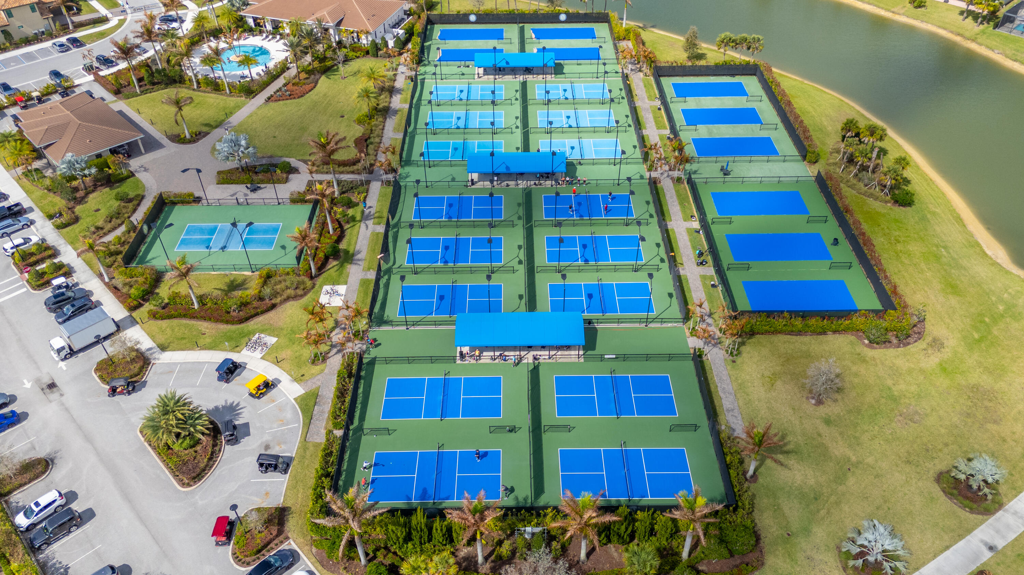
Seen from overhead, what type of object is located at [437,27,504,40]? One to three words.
sports court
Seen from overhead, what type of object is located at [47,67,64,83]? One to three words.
car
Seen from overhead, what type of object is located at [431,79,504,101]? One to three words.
sports court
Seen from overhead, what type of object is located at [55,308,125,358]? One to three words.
truck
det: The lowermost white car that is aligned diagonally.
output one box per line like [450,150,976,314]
[14,489,69,532]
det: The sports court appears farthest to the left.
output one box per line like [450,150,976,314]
[174,217,283,252]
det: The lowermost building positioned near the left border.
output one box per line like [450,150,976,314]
[15,91,147,174]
